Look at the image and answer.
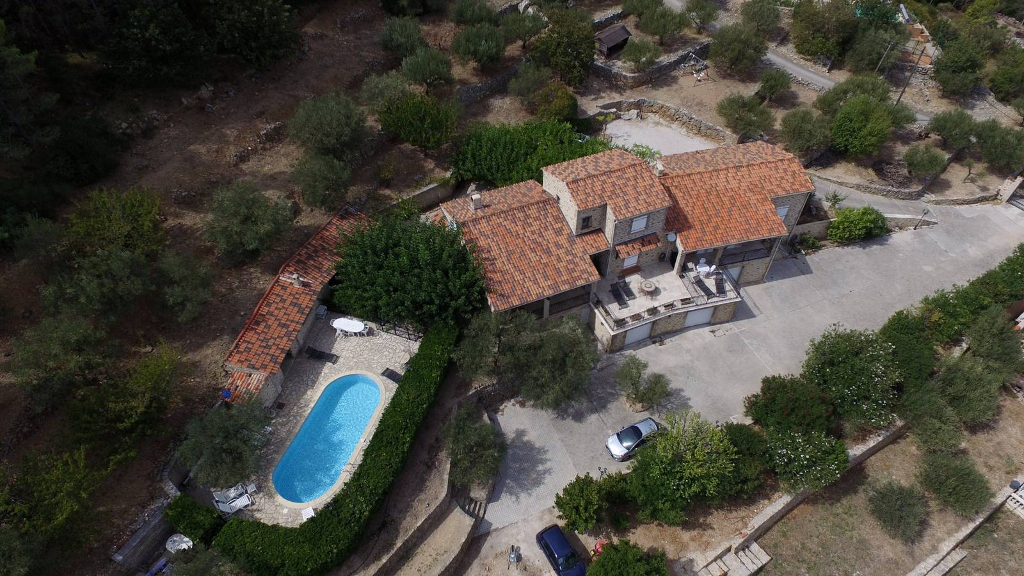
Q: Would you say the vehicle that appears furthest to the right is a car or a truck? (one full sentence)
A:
It looks like the vehicle that appears furthest to the right is a car.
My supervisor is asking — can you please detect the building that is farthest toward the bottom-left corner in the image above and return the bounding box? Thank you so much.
[222,205,387,425]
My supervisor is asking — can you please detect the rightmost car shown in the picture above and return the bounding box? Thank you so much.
[605,411,669,460]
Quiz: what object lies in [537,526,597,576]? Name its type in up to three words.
car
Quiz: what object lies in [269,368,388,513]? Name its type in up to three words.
swimming pool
